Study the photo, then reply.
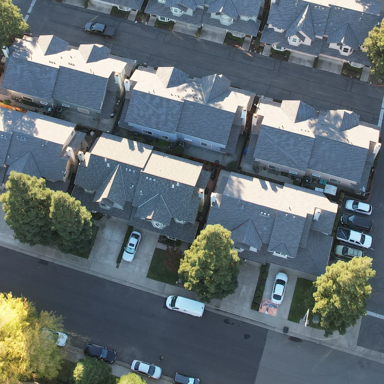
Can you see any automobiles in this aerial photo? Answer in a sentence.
Yes, the frame does contain an automobile.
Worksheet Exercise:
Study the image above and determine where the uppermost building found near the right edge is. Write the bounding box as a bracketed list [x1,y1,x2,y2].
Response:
[265,0,384,73]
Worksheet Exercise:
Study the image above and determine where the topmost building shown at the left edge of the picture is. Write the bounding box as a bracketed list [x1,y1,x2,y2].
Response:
[0,34,131,124]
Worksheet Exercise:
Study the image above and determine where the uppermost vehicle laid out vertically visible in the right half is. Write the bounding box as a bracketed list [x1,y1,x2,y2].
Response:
[271,272,287,305]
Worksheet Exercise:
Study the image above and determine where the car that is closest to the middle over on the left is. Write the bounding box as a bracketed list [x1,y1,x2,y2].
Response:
[123,231,141,263]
